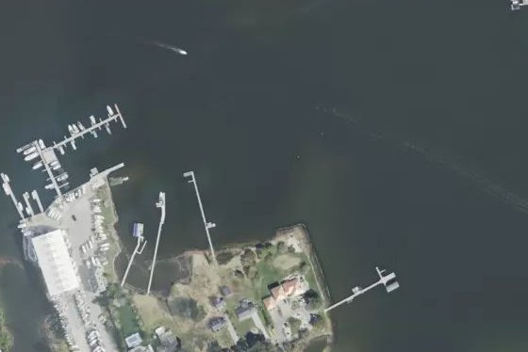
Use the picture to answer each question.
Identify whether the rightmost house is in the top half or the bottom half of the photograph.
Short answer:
bottom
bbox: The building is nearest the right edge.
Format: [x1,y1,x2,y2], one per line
[263,274,302,310]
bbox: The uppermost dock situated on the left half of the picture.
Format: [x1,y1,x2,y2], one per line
[40,104,127,152]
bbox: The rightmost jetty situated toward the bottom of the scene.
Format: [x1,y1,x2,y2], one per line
[326,267,400,311]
